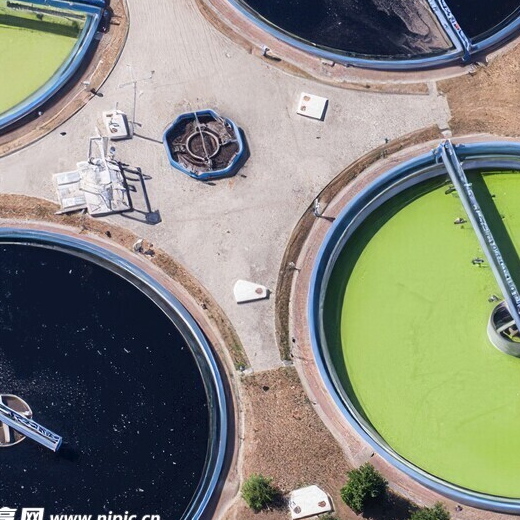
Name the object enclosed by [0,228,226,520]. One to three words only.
storage tank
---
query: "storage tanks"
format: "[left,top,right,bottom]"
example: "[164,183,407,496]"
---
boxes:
[0,1,103,135]
[221,0,520,72]
[0,228,226,520]
[307,141,520,516]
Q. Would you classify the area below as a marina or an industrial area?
industrial area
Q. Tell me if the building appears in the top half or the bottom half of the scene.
top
